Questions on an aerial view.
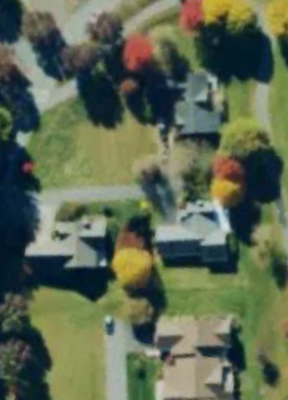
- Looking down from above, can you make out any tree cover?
Yes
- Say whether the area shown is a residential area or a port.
residential area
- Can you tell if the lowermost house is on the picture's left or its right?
right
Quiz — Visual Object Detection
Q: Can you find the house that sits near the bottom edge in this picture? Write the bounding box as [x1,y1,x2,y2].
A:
[154,313,233,400]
